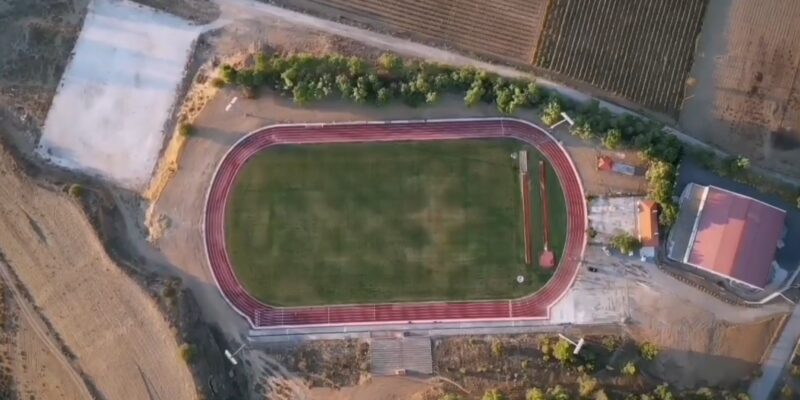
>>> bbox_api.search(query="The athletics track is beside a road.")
[205,116,588,330]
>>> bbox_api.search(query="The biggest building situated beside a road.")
[657,180,788,289]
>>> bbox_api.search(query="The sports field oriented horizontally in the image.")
[226,137,568,308]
